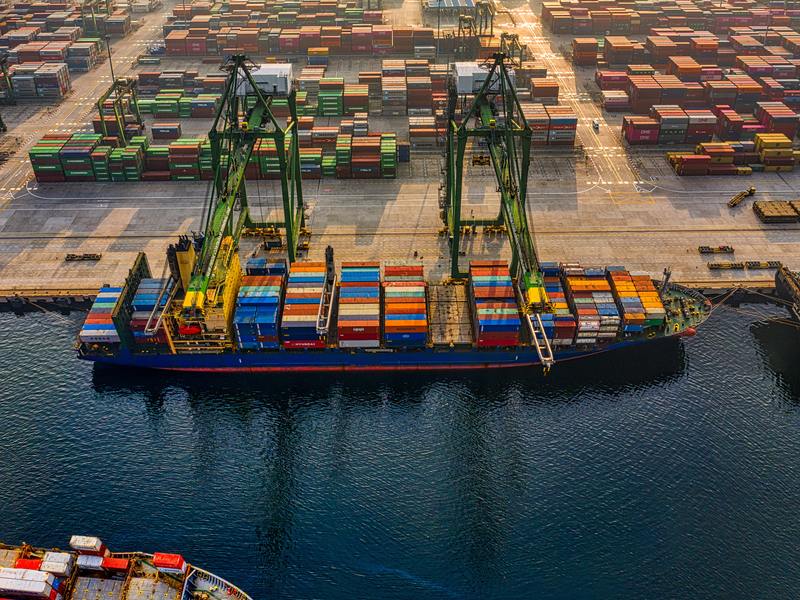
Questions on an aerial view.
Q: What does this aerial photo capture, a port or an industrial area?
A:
port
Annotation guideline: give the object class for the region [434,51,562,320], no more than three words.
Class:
container crane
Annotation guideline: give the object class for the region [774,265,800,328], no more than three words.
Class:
ship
